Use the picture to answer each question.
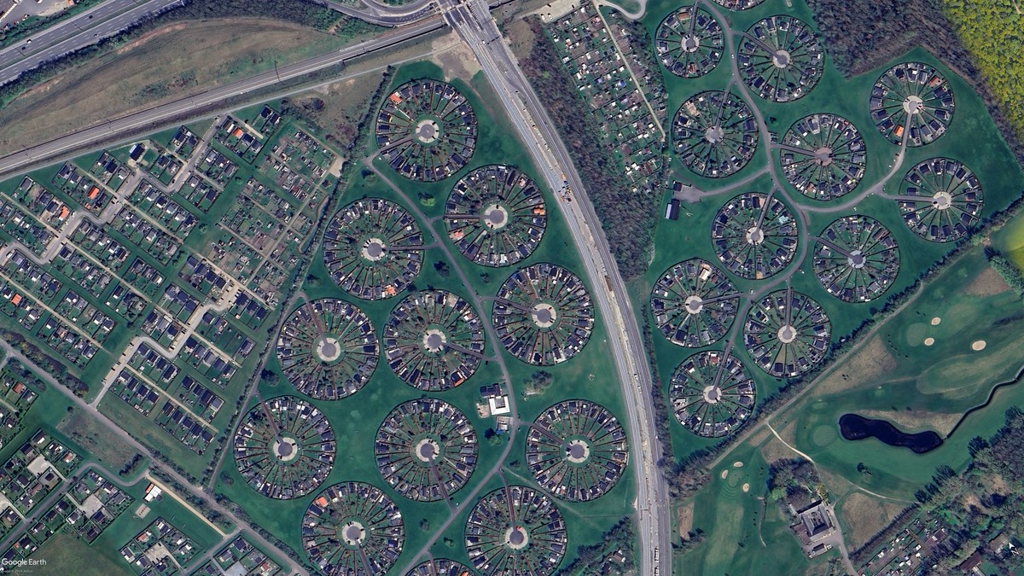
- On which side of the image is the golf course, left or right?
right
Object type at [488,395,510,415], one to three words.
building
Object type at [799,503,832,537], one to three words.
building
